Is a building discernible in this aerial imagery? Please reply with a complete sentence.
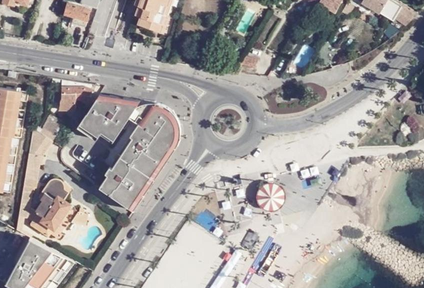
Yes, a building can be made out from above.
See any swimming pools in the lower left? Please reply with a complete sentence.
Yes, looking in the lower left, one can make out a swimming pool.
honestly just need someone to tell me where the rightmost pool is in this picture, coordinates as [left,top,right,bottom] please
[292,42,317,69]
